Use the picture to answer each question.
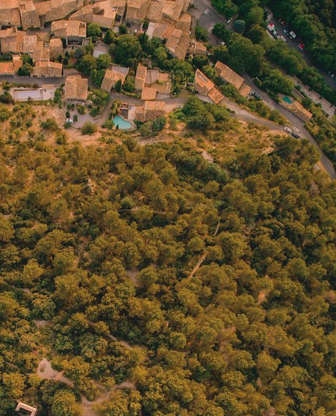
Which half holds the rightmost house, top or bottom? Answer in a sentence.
It is in the top half that the rightmost house appears.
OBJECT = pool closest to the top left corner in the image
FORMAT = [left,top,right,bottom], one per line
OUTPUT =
[11,85,46,103]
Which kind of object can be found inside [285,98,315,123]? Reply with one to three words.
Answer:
house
